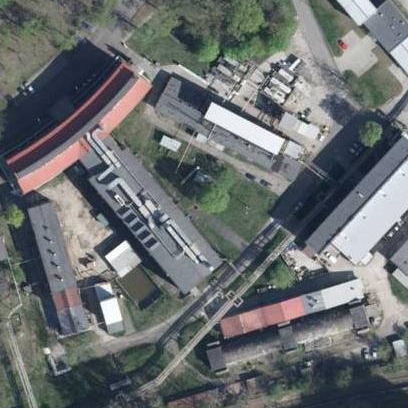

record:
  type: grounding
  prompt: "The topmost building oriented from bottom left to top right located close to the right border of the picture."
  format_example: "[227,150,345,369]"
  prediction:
[300,130,408,268]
